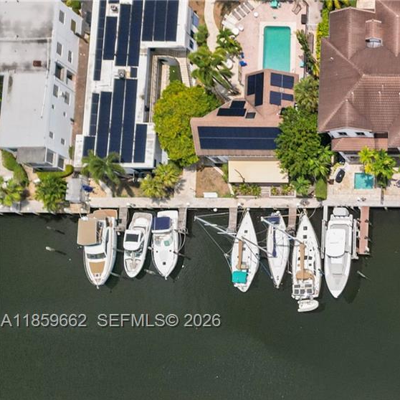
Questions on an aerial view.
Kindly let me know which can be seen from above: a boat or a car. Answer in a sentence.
There is a boat in the scene.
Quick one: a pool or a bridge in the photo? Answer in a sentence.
There is a pool in the scene.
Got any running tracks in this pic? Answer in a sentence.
No, the scene contains no running track.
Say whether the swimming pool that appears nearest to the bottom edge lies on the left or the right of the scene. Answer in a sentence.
The swimming pool that appears nearest to the bottom edge is on the right side of the image.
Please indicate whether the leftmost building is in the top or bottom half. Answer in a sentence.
The leftmost building is in the top half of the image.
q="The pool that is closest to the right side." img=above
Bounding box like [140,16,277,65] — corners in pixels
[352,170,375,190]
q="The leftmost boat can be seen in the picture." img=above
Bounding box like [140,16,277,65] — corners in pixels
[77,210,124,289]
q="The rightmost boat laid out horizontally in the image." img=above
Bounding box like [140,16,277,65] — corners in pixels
[297,299,319,311]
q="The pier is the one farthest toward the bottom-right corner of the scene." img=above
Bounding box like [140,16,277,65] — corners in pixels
[357,207,372,255]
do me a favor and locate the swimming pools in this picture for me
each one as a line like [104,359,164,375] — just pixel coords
[259,21,295,73]
[352,170,375,190]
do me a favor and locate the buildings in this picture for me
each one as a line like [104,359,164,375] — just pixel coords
[192,68,303,188]
[317,0,400,165]
[72,0,202,177]
[0,0,86,176]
